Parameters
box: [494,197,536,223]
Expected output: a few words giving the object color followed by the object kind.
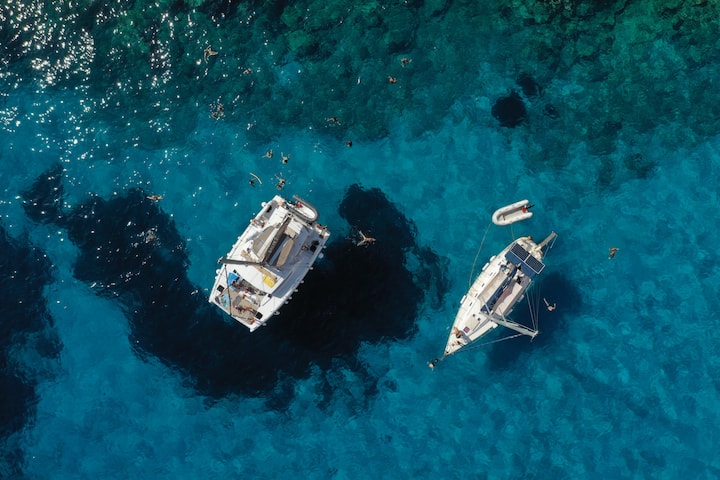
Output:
white boat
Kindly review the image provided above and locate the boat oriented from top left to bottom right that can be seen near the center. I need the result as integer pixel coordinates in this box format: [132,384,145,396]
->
[286,197,318,223]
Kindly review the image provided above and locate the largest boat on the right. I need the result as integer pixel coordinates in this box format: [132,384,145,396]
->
[437,231,562,363]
